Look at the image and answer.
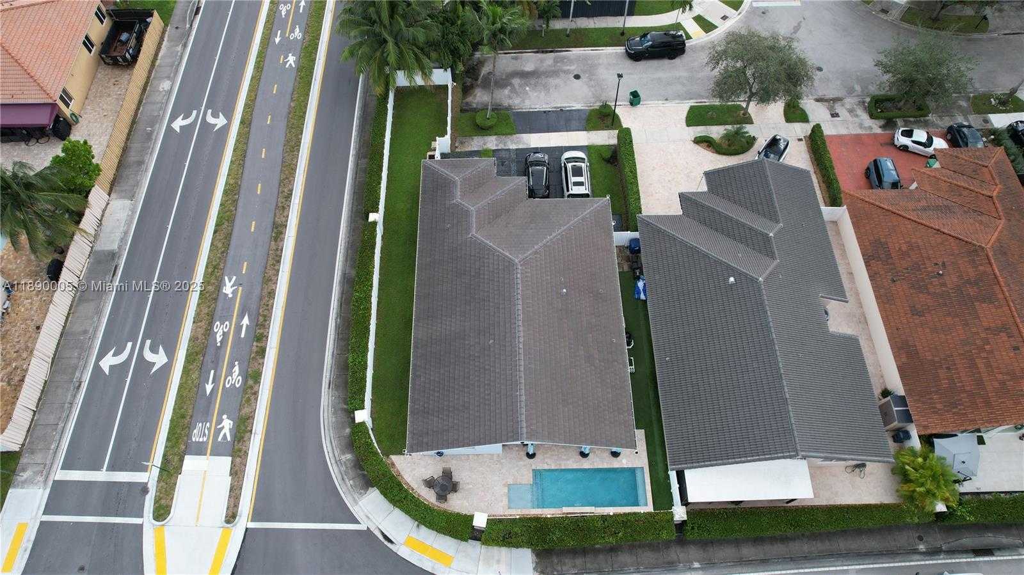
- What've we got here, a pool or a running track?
pool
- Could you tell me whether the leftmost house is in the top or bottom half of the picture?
top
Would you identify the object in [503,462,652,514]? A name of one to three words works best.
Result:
swimming pool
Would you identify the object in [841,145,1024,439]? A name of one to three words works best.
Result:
house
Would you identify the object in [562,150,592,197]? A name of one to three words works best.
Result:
car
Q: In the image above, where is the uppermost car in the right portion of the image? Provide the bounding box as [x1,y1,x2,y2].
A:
[625,30,686,62]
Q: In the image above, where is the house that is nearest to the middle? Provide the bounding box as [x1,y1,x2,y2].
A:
[404,157,640,458]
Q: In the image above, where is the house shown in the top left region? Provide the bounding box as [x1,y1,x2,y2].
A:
[0,0,113,134]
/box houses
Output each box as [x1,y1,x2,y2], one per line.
[404,157,640,458]
[0,0,113,134]
[841,145,1024,439]
[636,160,896,470]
